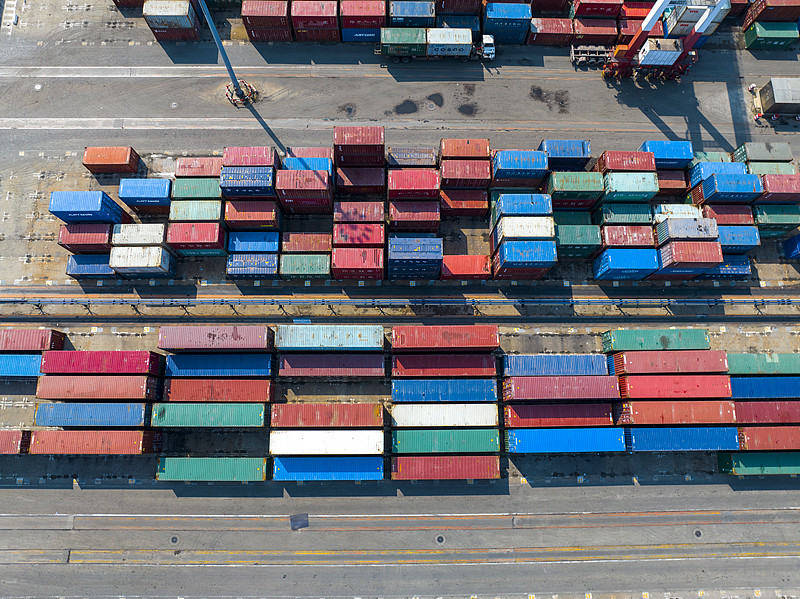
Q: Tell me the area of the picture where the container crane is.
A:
top right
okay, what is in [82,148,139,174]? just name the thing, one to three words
shipping container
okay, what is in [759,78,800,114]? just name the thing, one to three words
shed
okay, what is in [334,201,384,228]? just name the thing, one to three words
shipping container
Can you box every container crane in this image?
[600,0,726,89]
